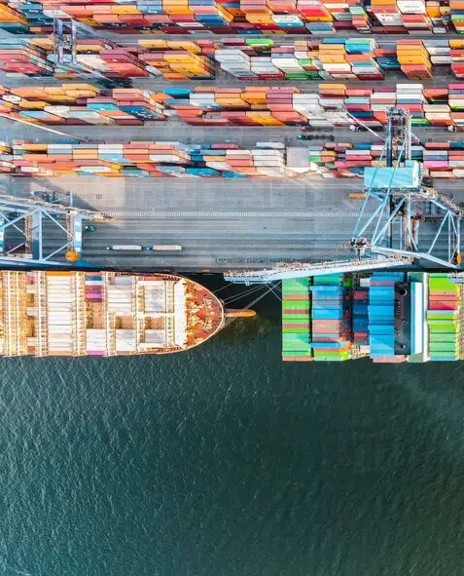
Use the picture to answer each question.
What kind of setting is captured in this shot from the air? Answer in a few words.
port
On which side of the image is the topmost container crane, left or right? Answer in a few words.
left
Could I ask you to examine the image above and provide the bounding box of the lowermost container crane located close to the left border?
[0,193,104,269]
